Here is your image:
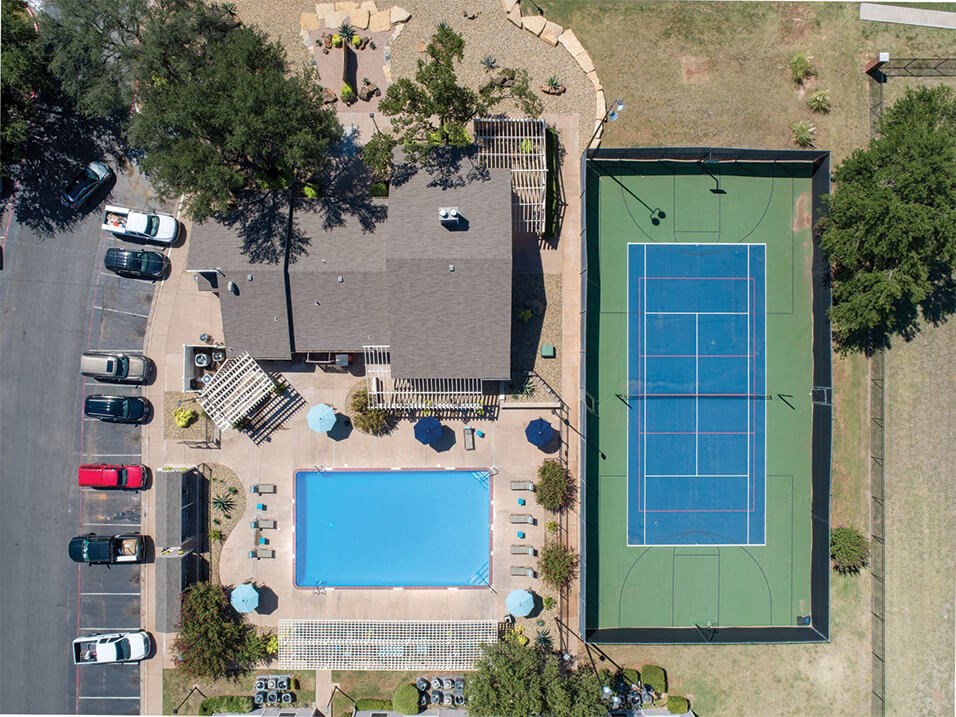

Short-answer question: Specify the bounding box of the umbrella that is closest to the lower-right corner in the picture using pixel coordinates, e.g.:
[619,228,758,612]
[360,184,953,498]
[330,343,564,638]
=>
[504,586,535,618]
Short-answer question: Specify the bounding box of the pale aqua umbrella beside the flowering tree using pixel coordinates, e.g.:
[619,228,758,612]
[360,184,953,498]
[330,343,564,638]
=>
[231,583,260,612]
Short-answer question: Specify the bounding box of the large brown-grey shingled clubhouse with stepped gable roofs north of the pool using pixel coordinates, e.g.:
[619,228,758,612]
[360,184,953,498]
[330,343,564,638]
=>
[186,148,513,381]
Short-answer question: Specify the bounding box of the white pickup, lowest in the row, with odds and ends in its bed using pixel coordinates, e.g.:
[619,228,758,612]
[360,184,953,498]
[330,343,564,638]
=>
[69,629,153,667]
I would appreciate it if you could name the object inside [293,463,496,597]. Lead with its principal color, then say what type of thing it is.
blue swimming pool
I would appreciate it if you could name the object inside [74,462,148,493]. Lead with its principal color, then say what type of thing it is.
red truck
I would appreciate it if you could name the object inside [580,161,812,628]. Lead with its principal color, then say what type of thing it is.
green tennis court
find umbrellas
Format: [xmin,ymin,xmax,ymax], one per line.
[526,417,556,448]
[414,415,443,445]
[504,586,535,618]
[305,401,337,433]
[231,583,260,612]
